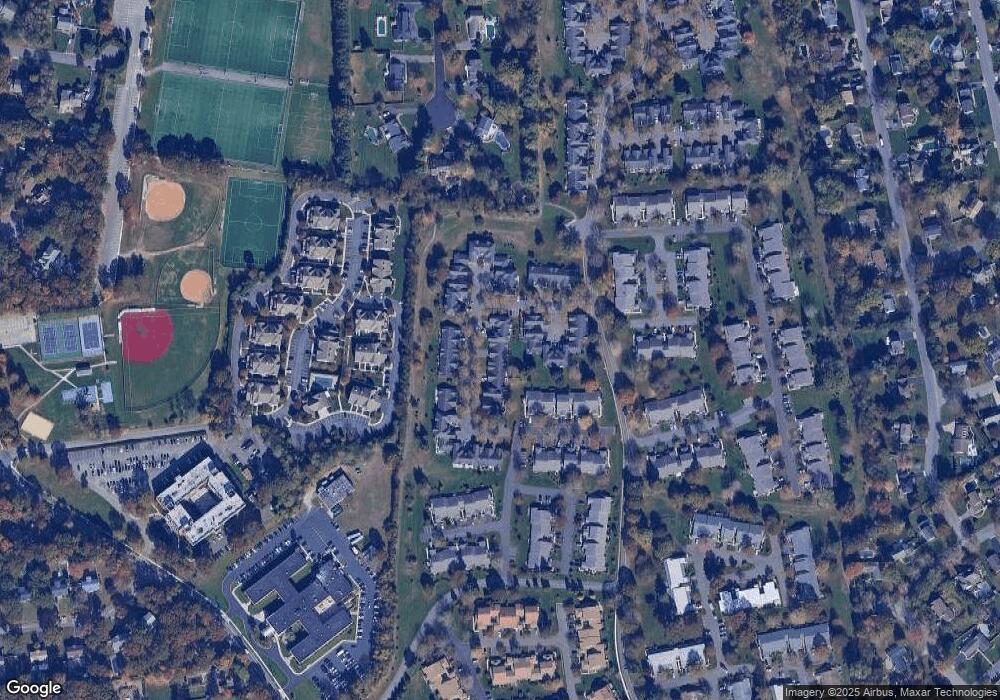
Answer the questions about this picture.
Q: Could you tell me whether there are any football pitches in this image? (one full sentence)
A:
Yes, looking at the shot, I can spot a football pitch.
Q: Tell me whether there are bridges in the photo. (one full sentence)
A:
No, I find no bridge anywhere in the image.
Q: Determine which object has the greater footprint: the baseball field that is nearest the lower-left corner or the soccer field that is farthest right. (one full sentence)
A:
Compared with the soccer field, the baseball field is the bigger one.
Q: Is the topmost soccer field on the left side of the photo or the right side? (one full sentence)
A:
It is on the left.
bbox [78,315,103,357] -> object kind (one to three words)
basketball court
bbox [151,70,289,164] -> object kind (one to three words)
soccer field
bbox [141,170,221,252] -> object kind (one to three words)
baseball field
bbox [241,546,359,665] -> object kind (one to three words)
building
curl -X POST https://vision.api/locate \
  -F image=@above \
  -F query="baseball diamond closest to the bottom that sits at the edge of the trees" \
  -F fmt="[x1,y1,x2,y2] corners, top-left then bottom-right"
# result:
[117,307,221,411]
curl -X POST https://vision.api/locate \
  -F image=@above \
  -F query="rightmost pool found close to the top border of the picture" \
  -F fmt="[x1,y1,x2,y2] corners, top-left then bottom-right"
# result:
[931,33,945,53]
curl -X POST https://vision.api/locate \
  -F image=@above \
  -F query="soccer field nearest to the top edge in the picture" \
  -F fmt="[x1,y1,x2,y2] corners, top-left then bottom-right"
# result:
[162,0,303,82]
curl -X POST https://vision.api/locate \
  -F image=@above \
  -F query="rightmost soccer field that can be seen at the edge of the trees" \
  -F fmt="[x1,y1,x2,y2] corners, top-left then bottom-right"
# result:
[286,84,332,162]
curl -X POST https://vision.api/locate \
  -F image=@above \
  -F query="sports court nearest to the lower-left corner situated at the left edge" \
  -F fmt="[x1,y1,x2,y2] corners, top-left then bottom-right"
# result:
[21,413,54,439]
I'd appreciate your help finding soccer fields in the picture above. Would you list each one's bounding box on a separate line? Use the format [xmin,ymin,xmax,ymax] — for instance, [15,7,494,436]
[286,84,332,162]
[220,175,287,269]
[162,0,303,82]
[151,70,289,164]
